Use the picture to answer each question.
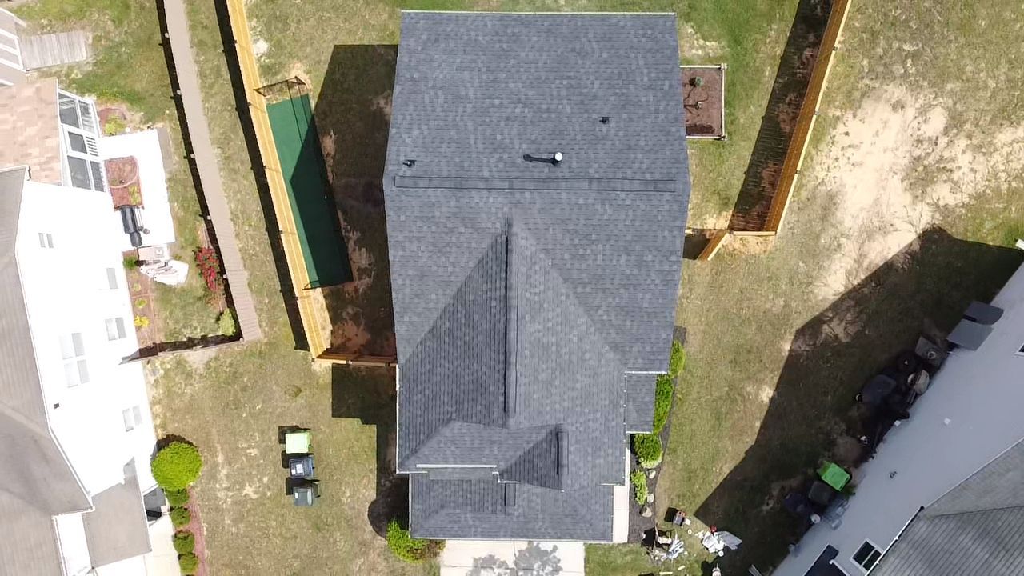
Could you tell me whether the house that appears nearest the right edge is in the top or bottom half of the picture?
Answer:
bottom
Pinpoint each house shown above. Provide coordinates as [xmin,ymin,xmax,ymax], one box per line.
[0,73,194,576]
[762,265,1024,576]
[382,10,694,540]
